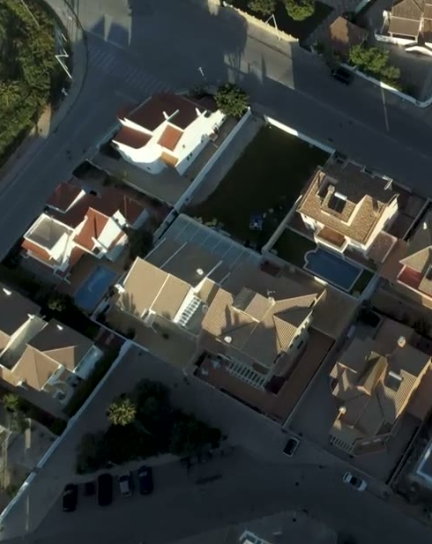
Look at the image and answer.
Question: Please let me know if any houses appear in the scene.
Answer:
Yes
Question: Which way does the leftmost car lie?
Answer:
from top to bottom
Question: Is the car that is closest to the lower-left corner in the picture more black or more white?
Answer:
black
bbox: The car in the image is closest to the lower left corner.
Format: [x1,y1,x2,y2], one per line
[57,480,77,514]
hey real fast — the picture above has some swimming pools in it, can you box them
[302,243,366,294]
[71,266,120,312]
